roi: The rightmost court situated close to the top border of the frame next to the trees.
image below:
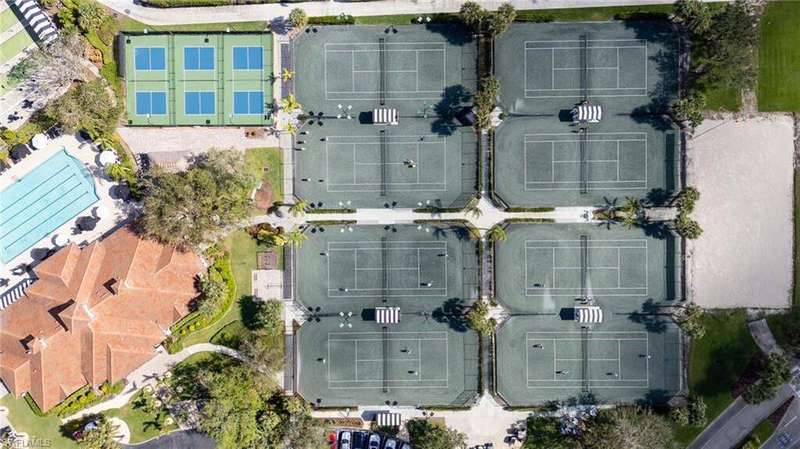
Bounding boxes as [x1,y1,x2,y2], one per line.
[495,22,681,113]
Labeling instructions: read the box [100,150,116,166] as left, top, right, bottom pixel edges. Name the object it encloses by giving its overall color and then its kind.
white umbrella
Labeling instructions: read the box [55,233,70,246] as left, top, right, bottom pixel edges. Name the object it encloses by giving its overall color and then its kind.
white umbrella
